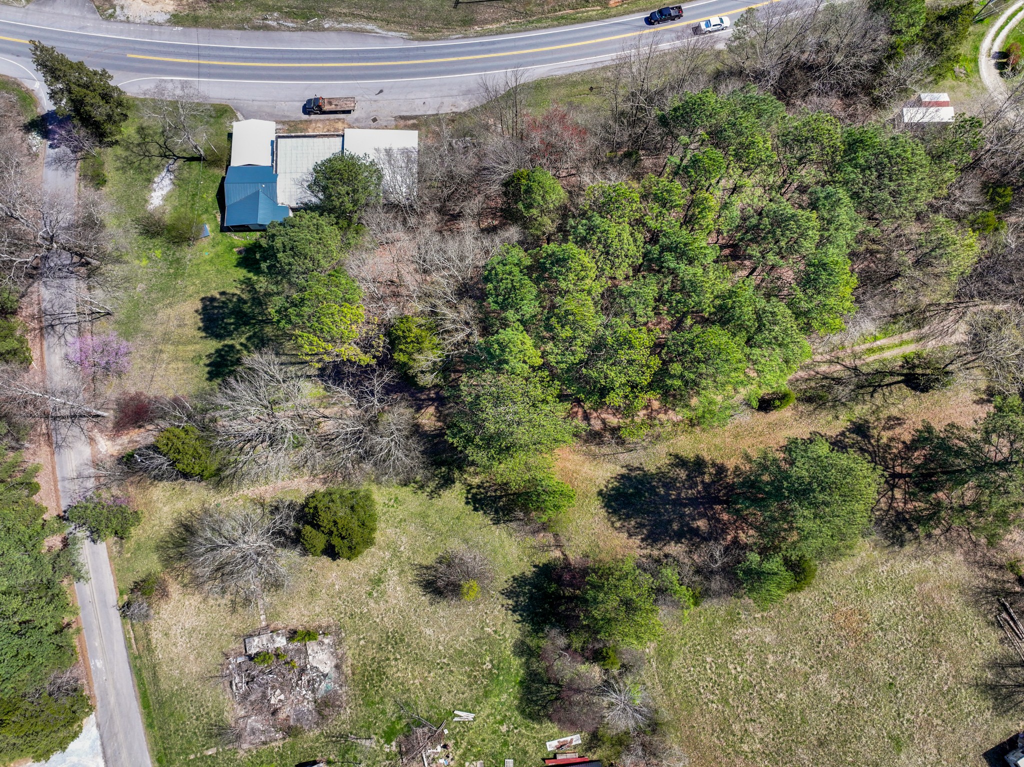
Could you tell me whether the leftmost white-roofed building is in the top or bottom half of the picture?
top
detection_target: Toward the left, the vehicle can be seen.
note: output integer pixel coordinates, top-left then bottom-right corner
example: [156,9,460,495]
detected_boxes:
[304,97,358,116]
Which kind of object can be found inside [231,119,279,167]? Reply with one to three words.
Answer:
building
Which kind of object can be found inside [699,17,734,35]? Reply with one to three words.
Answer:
vehicle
